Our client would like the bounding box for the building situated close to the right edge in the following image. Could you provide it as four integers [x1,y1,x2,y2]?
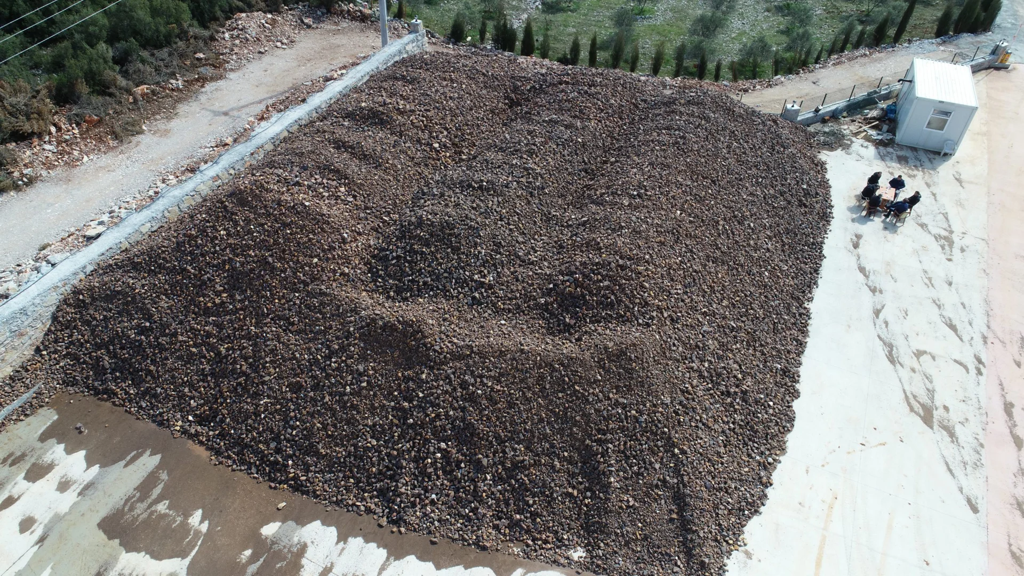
[896,57,978,154]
